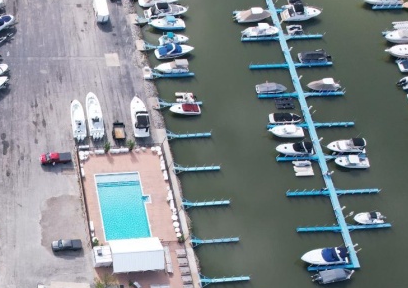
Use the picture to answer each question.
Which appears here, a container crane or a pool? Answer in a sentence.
Visible in the photo is a pool.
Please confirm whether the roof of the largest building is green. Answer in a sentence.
No, the roof of the largest building is white.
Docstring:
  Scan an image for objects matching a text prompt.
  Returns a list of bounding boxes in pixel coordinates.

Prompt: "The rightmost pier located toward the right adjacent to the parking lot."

[270,0,363,269]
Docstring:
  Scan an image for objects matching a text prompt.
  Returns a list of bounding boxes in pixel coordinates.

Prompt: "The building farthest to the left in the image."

[88,244,112,272]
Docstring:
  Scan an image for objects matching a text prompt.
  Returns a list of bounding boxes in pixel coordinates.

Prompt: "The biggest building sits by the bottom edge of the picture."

[108,240,165,277]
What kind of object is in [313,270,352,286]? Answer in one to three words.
boat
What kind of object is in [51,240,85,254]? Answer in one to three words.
vehicle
